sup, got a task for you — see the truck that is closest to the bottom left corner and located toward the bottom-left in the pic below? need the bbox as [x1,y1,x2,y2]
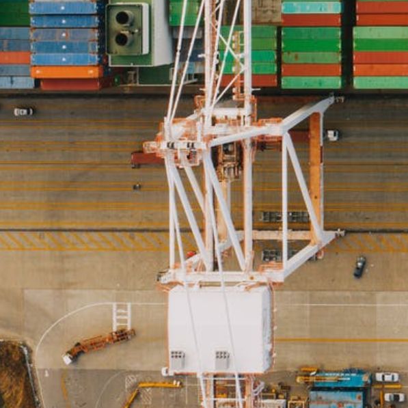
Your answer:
[65,343,89,365]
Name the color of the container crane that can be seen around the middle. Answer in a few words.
white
